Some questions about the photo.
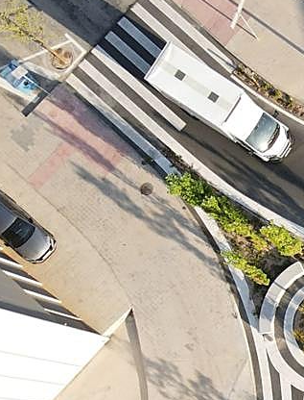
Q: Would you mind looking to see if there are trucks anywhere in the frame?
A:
Yes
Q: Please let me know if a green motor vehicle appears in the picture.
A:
No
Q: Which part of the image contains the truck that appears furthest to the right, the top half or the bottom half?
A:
top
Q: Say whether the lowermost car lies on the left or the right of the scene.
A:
left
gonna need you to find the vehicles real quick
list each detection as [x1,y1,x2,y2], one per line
[146,47,295,171]
[0,190,57,261]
